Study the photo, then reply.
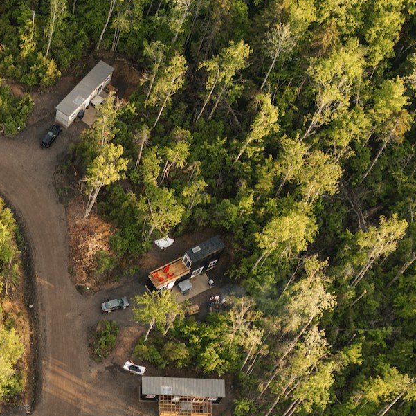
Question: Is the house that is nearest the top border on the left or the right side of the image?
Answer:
left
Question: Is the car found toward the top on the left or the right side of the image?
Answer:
left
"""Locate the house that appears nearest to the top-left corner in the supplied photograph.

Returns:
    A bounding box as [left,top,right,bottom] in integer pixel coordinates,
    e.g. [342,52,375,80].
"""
[54,60,114,128]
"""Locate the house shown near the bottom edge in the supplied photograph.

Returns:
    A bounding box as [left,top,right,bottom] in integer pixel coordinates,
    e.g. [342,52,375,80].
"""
[139,377,225,406]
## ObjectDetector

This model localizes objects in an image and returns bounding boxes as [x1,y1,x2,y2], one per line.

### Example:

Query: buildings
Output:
[146,235,225,294]
[139,377,225,406]
[54,60,114,128]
